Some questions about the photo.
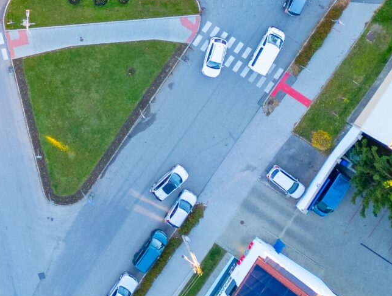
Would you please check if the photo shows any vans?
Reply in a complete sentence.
Yes, the frame does contain a van.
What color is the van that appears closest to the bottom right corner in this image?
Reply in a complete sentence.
The van that appears closest to the bottom right corner looks blue in the image.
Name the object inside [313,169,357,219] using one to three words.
van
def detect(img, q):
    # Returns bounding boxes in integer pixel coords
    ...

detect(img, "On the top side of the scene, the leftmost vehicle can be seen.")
[201,35,229,79]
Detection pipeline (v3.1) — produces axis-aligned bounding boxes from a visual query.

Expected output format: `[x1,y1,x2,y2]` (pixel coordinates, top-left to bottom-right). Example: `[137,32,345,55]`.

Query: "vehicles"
[248,26,283,78]
[201,35,229,79]
[130,229,170,275]
[264,163,302,197]
[105,272,139,296]
[283,0,306,18]
[149,165,189,202]
[313,169,357,219]
[161,189,199,230]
